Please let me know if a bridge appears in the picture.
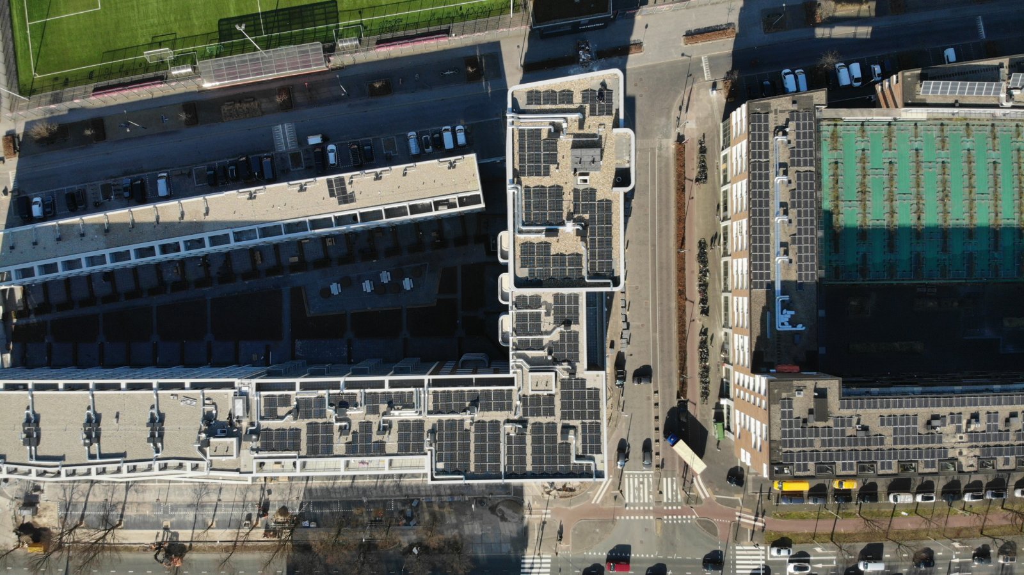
No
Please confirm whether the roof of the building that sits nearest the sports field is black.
Yes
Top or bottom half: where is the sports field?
top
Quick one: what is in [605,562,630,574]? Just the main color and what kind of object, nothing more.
red vehicle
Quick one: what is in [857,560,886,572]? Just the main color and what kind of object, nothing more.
white vehicle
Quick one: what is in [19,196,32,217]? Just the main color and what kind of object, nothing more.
black vehicle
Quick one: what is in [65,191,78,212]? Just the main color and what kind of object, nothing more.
black vehicle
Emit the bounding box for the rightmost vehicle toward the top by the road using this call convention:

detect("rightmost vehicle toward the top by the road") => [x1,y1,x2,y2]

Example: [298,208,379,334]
[942,48,956,64]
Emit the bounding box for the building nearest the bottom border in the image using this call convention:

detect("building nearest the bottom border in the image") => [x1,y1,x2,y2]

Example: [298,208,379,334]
[11,508,37,522]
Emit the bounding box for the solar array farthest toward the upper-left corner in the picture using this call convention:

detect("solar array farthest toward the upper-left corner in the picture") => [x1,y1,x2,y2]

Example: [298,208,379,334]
[327,178,353,204]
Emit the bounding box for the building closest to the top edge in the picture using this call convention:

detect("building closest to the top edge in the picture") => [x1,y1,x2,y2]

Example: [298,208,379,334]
[529,0,612,39]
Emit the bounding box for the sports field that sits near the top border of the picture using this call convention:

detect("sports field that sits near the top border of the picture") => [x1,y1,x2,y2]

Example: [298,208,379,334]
[11,0,511,99]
